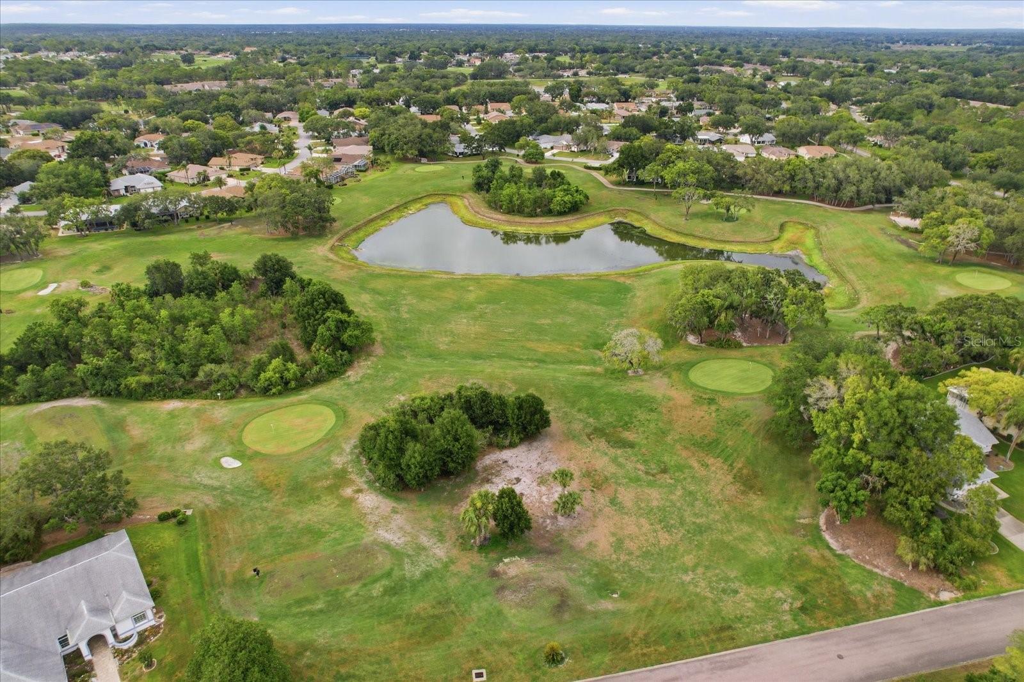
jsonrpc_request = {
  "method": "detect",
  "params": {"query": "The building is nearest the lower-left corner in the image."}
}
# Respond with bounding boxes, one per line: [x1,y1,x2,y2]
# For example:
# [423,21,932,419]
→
[0,530,160,682]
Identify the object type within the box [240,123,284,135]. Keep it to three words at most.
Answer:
house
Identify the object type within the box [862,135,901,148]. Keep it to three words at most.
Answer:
house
